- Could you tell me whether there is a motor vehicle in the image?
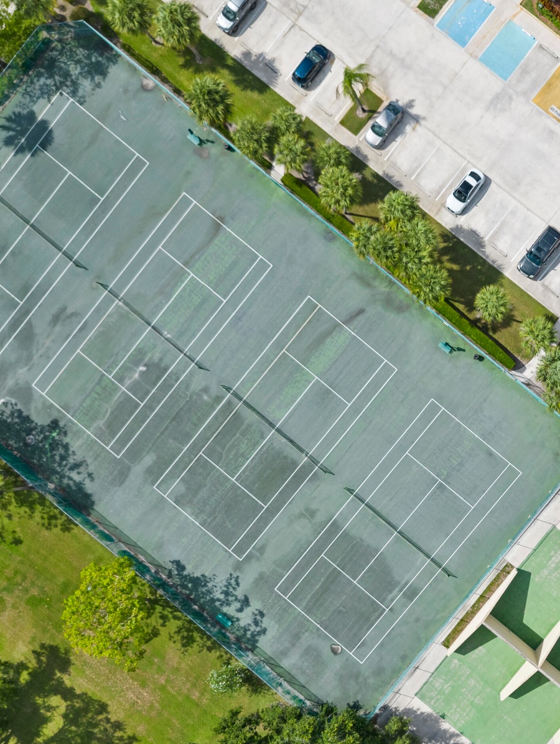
Yes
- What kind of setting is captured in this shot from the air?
sports ground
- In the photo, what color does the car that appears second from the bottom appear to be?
white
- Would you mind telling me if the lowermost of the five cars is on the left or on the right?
right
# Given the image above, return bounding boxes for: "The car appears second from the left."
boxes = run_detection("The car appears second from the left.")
[294,47,329,89]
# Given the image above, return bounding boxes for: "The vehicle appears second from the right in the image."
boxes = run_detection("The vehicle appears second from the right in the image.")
[448,167,485,215]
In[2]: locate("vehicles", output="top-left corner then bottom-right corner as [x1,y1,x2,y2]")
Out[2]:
[294,47,329,89]
[368,100,404,149]
[520,226,560,278]
[218,0,257,35]
[448,167,485,215]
